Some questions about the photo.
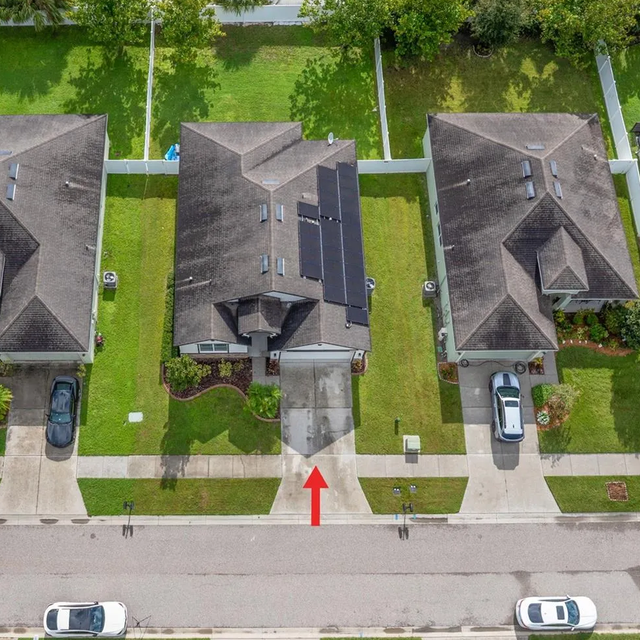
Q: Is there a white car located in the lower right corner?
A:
Yes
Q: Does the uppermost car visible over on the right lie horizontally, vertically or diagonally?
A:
vertically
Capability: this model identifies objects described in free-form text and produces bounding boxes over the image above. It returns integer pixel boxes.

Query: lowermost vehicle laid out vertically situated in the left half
[45,374,81,448]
